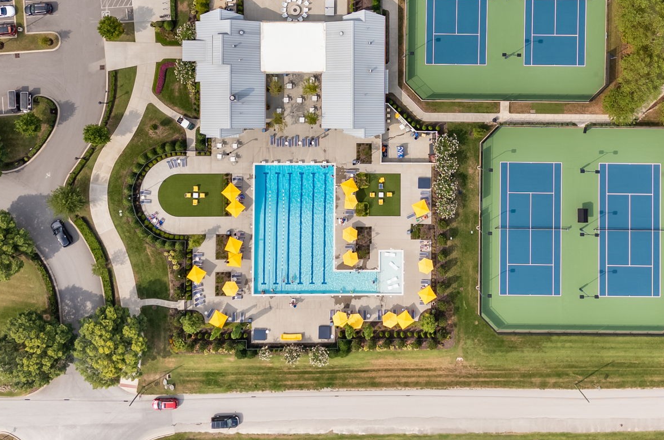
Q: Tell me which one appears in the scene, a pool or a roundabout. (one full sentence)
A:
I can see a pool in this picture.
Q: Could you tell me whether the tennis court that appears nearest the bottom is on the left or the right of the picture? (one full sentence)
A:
You can find the tennis court that appears nearest the bottom on the right side of the picture.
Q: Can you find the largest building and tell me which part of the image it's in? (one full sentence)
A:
The largest building is in the top part of the image.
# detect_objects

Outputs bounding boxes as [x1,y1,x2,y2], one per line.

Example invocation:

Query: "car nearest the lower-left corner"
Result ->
[153,396,179,411]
